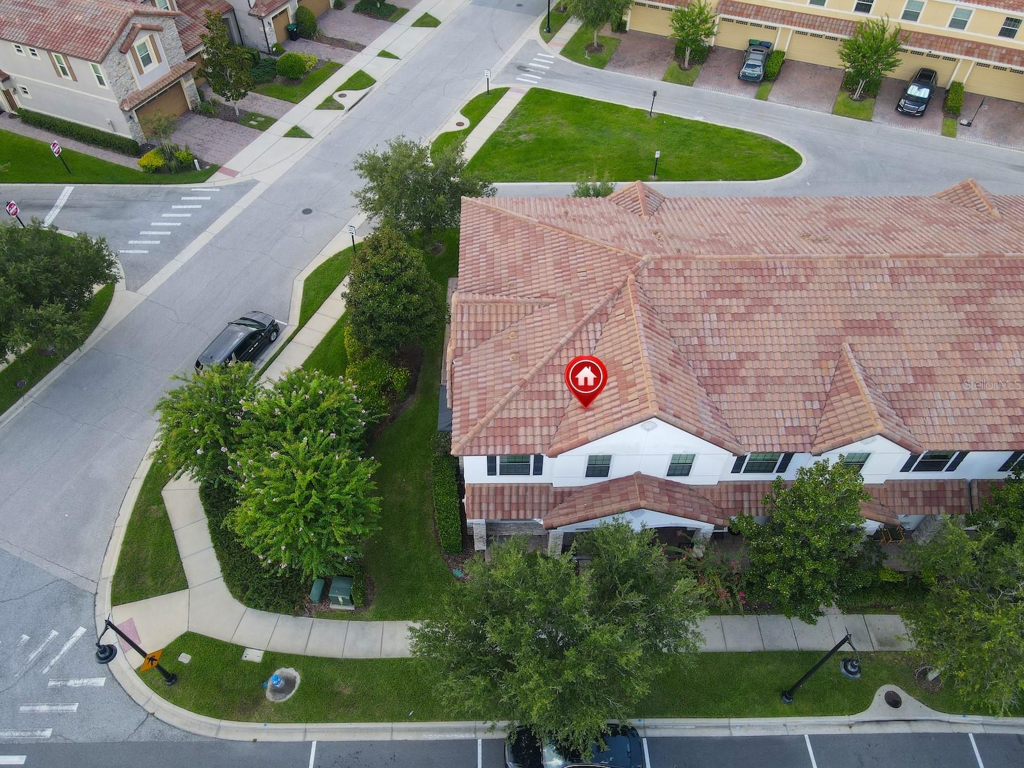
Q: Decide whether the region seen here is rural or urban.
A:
urban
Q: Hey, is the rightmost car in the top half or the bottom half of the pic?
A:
top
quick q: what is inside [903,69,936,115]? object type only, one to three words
car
